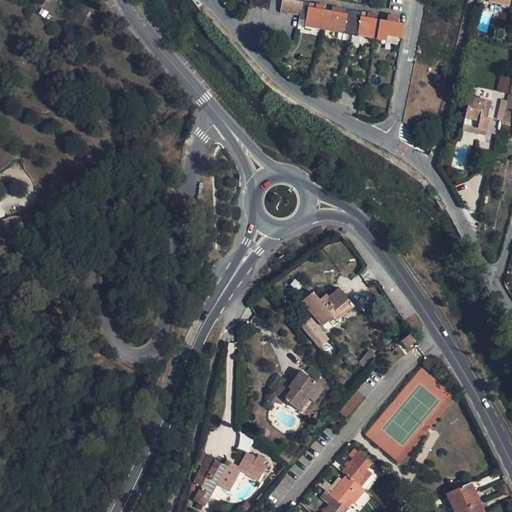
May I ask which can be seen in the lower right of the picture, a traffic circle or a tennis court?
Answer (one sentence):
Looking in the lower right of the picture, you will find a tennis court.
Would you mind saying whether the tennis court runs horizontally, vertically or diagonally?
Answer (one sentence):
I'd say the tennis court is aligned diagonally in the picture.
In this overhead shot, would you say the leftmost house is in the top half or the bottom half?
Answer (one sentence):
Seen from above, the leftmost house lies in the bottom half of the view.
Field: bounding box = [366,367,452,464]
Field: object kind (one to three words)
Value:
tennis court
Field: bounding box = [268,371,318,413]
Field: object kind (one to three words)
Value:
house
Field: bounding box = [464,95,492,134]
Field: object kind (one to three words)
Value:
house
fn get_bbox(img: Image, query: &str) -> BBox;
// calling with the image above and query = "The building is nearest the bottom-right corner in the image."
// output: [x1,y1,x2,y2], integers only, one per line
[449,484,486,512]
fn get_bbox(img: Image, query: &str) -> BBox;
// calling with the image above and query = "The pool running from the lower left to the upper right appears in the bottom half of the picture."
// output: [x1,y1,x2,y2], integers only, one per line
[236,484,256,500]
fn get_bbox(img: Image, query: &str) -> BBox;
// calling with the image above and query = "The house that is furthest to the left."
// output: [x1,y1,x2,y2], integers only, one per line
[190,454,270,508]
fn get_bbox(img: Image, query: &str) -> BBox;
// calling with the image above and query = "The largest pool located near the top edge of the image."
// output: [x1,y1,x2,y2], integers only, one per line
[478,10,493,33]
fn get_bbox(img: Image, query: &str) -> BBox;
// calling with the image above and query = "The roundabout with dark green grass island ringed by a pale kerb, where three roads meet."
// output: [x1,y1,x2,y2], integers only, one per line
[242,149,346,264]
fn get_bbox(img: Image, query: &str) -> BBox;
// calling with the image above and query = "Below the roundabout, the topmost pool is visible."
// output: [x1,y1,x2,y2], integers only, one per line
[276,410,296,428]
